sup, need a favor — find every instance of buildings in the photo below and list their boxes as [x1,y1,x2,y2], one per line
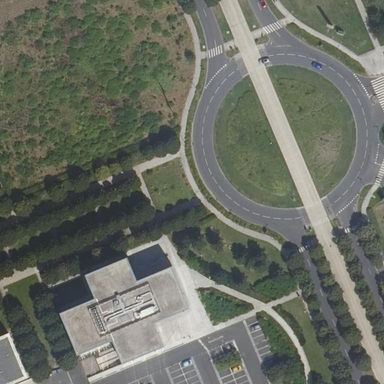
[0,334,28,384]
[57,258,188,380]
